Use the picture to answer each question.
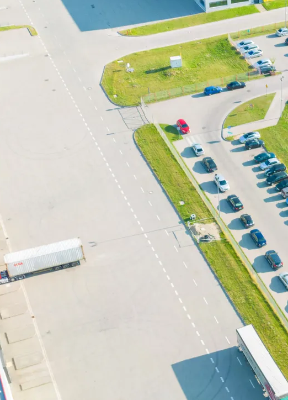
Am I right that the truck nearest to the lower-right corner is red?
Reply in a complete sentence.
No, the color of the truck nearest to the lower-right corner is white.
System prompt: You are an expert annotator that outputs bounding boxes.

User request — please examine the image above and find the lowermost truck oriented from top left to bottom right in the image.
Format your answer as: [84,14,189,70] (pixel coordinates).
[236,323,288,400]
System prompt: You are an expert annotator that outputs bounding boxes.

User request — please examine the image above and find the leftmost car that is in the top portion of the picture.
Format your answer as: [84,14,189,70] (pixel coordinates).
[177,120,190,134]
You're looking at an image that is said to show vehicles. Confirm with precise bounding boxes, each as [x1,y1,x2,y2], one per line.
[177,120,190,134]
[238,132,262,143]
[276,28,288,37]
[236,40,256,50]
[245,50,264,59]
[249,230,269,248]
[258,65,278,74]
[241,215,256,230]
[202,157,219,174]
[252,152,277,164]
[225,82,247,92]
[266,170,288,184]
[241,44,260,54]
[236,323,288,400]
[278,272,288,291]
[244,140,265,151]
[215,175,230,192]
[192,144,205,156]
[264,251,285,272]
[203,85,223,97]
[263,163,288,177]
[255,58,272,68]
[275,178,288,190]
[279,185,288,199]
[227,195,245,212]
[258,158,283,170]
